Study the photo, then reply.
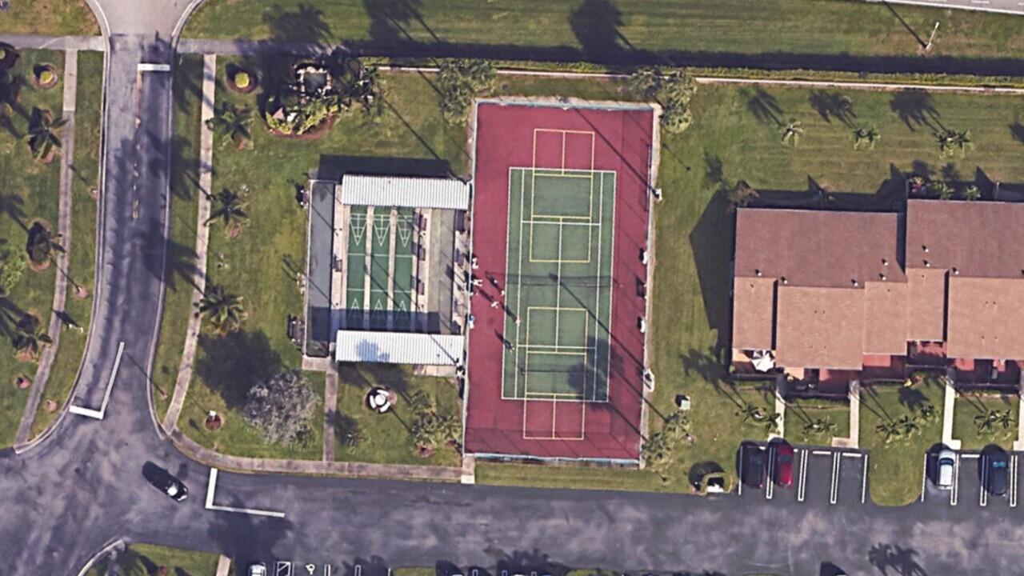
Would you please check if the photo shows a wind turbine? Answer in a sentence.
No, no wind turbine is visible in the scene.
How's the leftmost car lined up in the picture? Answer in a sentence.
The leftmost car is oriented diagonally.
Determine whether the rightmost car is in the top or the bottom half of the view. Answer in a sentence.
Seen from above, the rightmost car lies in the bottom half of the view.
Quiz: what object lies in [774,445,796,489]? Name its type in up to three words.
car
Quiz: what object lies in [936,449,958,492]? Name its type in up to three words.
car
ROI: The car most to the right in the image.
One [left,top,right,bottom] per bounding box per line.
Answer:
[984,449,1007,497]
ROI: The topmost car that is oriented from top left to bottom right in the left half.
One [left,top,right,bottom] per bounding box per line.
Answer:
[143,462,187,501]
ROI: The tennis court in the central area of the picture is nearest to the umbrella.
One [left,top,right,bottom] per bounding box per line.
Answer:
[465,105,652,462]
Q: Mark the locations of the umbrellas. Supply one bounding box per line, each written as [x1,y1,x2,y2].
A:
[749,351,775,375]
